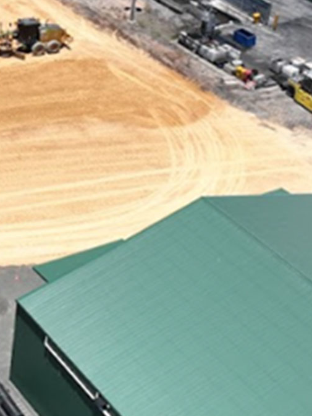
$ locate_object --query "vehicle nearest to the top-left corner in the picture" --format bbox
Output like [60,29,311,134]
[0,10,70,61]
